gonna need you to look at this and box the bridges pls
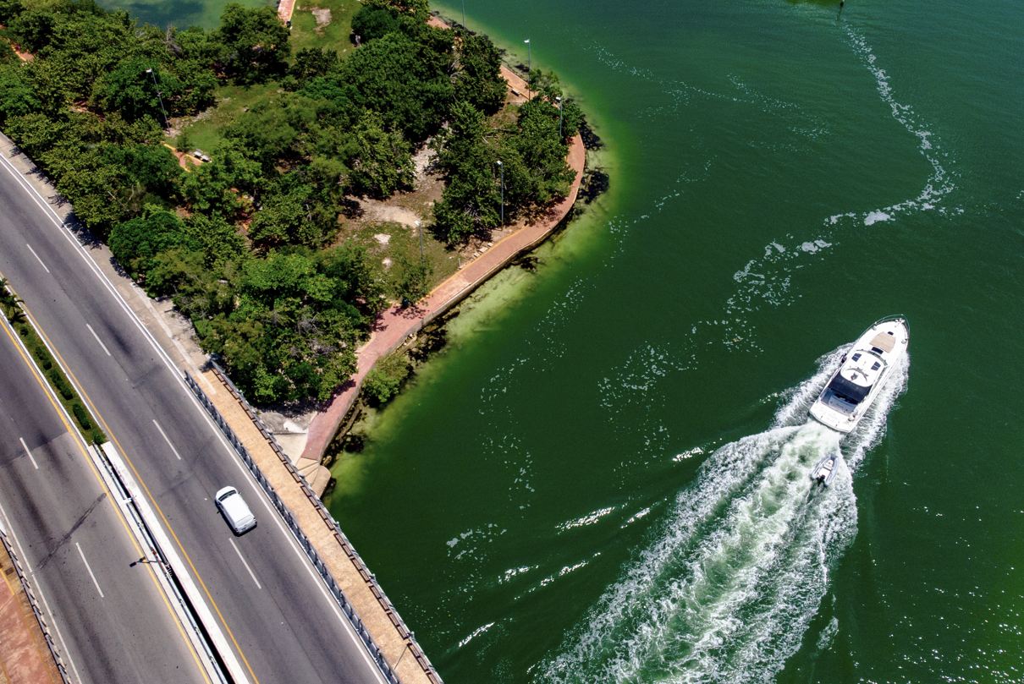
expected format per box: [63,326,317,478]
[0,371,446,684]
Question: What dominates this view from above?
water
